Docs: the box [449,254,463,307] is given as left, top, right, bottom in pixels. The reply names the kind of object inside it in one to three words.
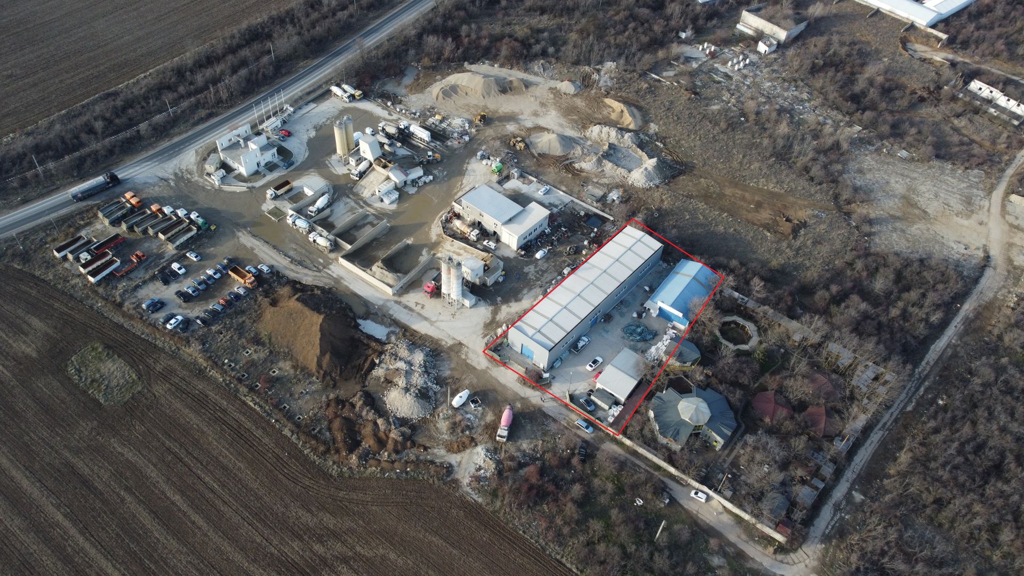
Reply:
silo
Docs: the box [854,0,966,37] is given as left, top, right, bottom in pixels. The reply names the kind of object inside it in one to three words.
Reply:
barn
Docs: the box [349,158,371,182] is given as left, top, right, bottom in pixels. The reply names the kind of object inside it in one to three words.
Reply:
truck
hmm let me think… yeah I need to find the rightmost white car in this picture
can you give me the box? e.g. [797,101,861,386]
[689,490,709,504]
